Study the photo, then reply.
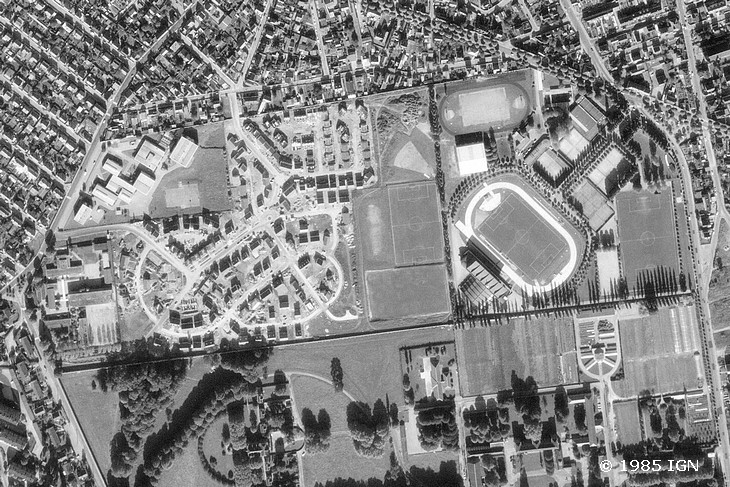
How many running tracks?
2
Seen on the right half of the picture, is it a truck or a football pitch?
football pitch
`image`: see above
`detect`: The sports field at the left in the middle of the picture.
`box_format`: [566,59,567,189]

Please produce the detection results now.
[165,182,200,208]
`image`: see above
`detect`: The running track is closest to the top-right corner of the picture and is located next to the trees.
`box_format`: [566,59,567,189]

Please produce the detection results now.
[441,81,530,135]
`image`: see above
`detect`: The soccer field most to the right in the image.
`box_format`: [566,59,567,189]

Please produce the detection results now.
[617,191,684,288]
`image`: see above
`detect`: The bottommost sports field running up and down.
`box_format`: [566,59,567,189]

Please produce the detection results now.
[597,248,622,297]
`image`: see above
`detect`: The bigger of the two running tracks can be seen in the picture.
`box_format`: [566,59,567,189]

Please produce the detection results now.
[454,173,587,305]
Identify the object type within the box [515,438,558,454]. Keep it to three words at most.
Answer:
house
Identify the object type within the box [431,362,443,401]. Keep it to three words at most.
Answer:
house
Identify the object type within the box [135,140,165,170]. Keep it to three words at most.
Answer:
building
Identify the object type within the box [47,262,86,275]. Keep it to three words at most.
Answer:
building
